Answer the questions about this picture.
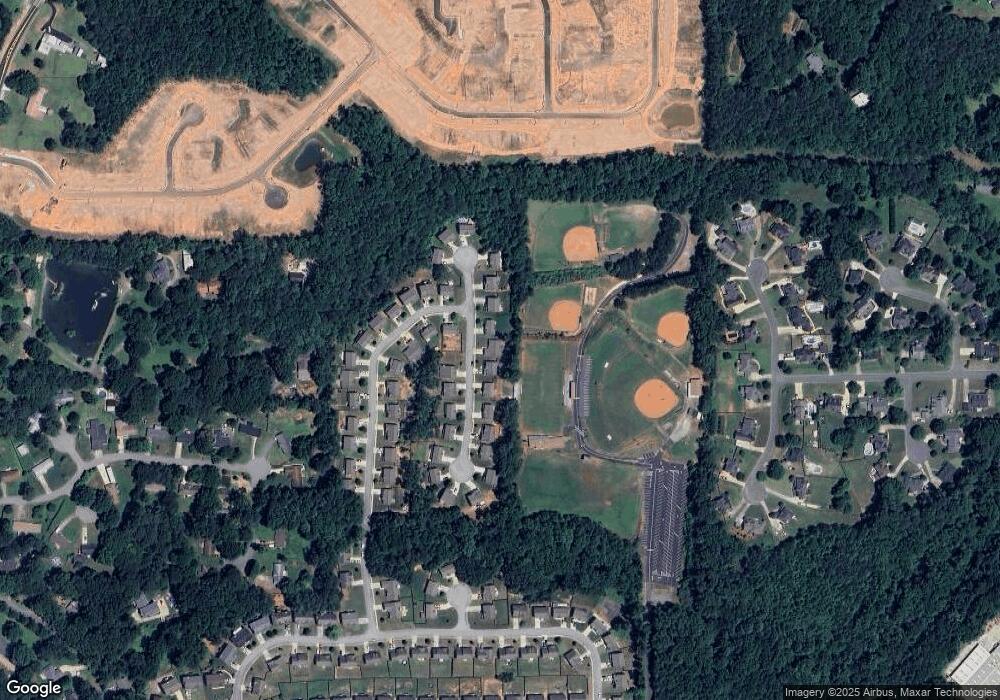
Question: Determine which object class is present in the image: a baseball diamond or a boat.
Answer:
baseball diamond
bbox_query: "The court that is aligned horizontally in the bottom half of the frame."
[529,436,566,449]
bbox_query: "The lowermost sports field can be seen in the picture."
[518,455,644,535]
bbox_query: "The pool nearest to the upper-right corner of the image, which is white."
[906,221,926,235]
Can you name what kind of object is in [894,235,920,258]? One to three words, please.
house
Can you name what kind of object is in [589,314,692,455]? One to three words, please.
baseball field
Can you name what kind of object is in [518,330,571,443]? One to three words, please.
sports field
